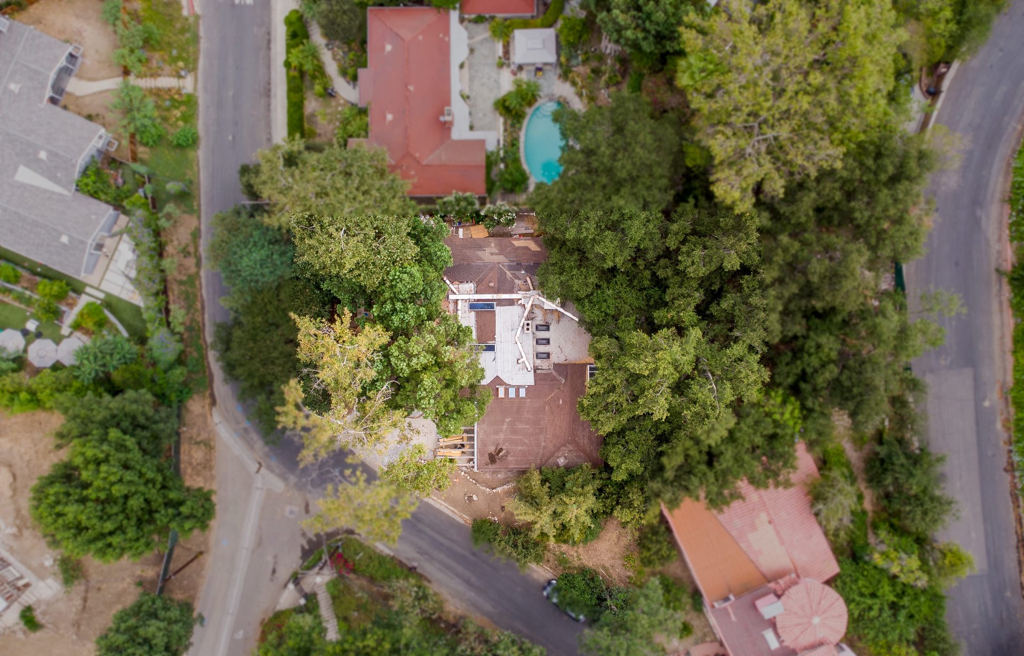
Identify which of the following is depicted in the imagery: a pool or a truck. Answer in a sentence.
There is a pool in the scene.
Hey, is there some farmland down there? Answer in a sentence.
No, there's no farmland in this view.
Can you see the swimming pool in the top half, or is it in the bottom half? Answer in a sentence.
Seen from above, the swimming pool lies in the top half of the view.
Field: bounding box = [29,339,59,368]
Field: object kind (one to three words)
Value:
umbrella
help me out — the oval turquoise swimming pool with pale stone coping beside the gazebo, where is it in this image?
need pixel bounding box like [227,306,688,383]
[520,96,578,188]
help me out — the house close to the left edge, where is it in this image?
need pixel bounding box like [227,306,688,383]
[0,15,127,278]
